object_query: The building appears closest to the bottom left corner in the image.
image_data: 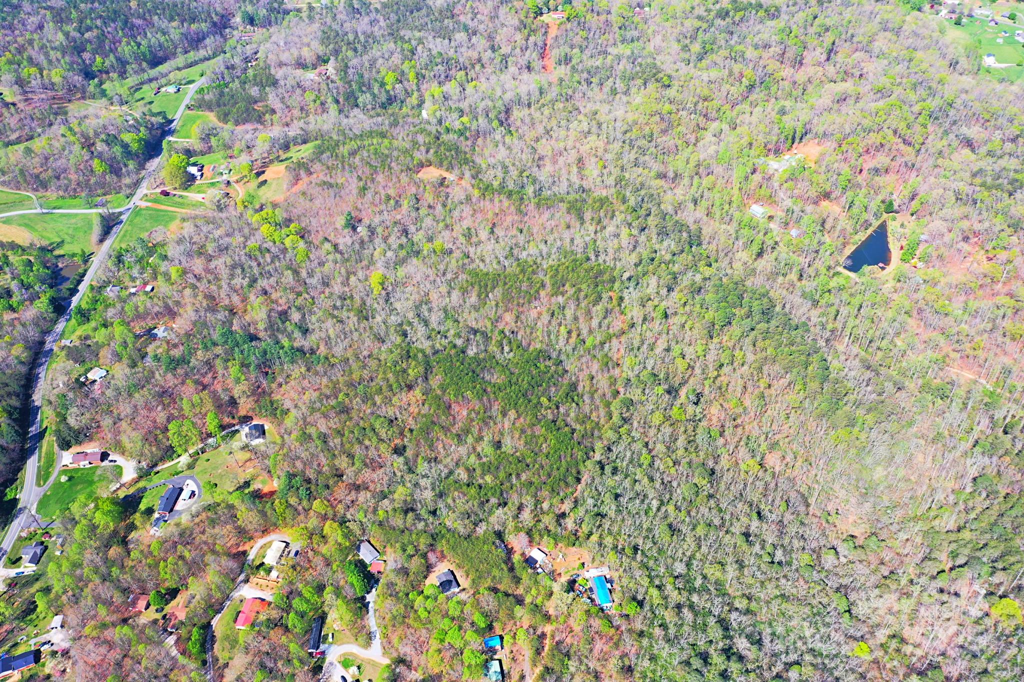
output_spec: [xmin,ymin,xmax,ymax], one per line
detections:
[0,649,38,680]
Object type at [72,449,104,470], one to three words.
house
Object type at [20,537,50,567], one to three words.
house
